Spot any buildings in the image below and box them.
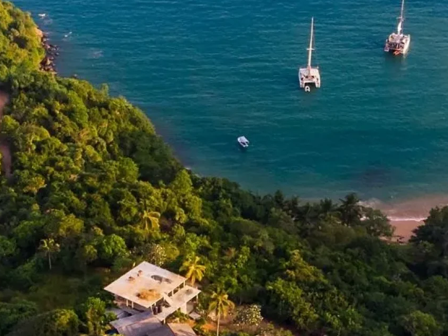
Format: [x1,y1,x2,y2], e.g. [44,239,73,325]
[148,323,196,336]
[104,262,200,323]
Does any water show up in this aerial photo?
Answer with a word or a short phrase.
Yes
